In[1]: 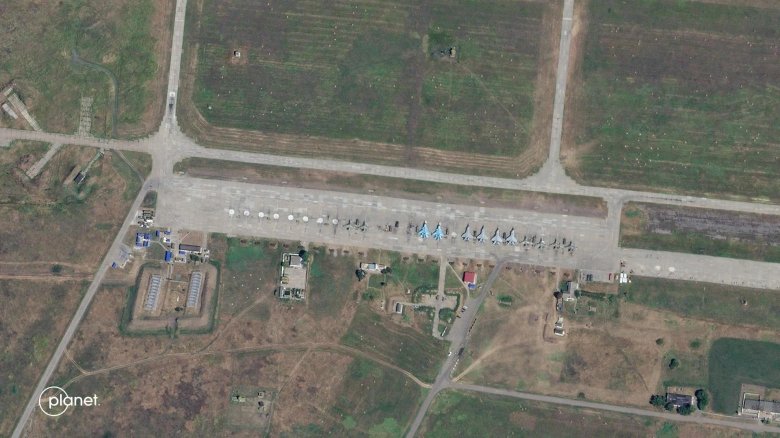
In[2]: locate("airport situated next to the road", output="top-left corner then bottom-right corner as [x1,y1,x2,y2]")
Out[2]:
[0,0,780,289]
